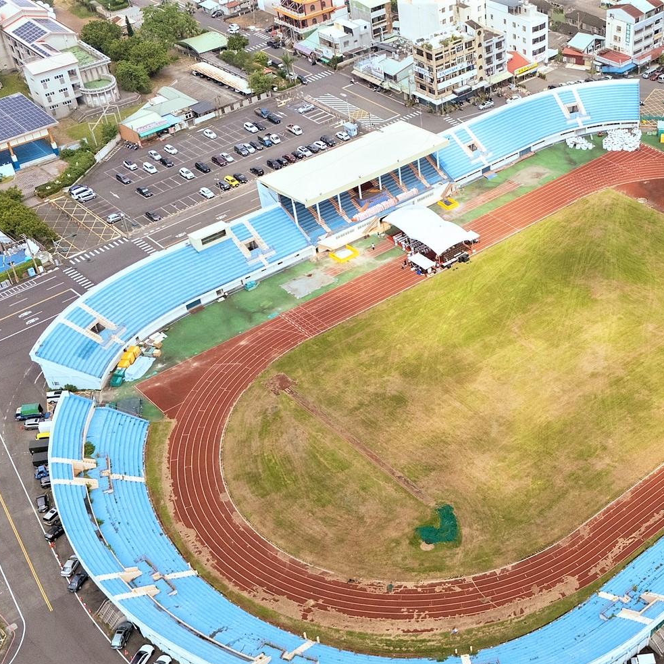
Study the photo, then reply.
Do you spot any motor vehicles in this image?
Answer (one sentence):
Yes, there's a motor vehicle here.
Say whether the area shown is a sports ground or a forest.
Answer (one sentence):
The picture captures a sports ground.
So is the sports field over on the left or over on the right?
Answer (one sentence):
The sports field appears in the right half of the scene.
